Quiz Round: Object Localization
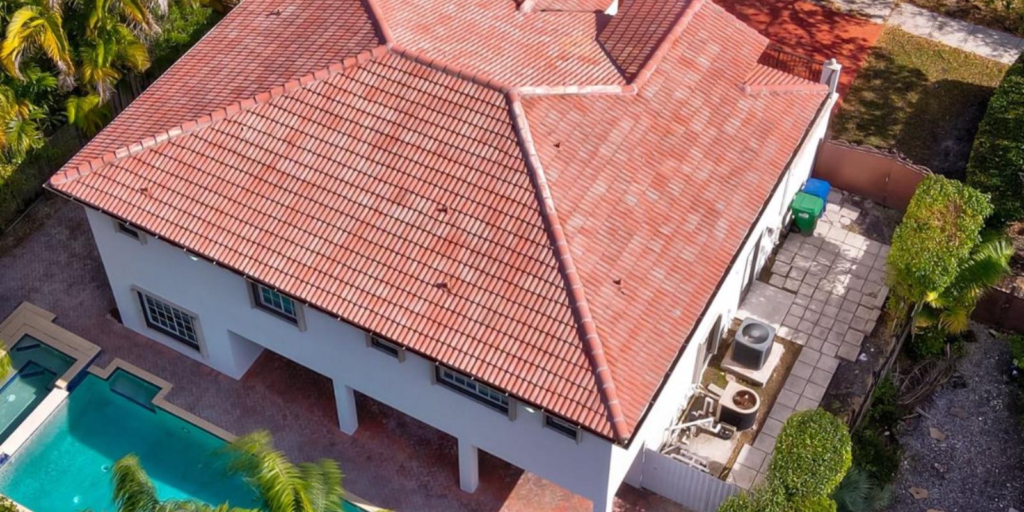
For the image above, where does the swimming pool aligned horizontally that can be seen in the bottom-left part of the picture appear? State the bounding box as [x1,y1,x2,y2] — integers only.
[0,359,390,512]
